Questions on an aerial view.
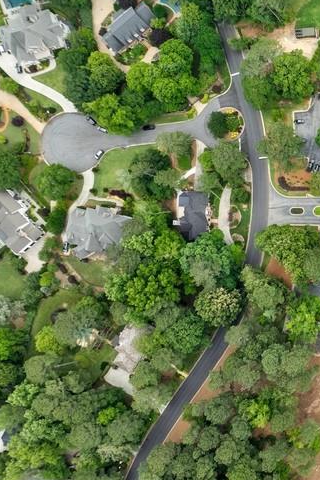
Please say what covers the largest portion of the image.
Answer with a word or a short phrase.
trees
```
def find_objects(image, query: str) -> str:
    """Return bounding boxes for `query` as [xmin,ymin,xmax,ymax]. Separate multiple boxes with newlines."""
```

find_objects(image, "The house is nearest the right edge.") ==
[169,192,213,240]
